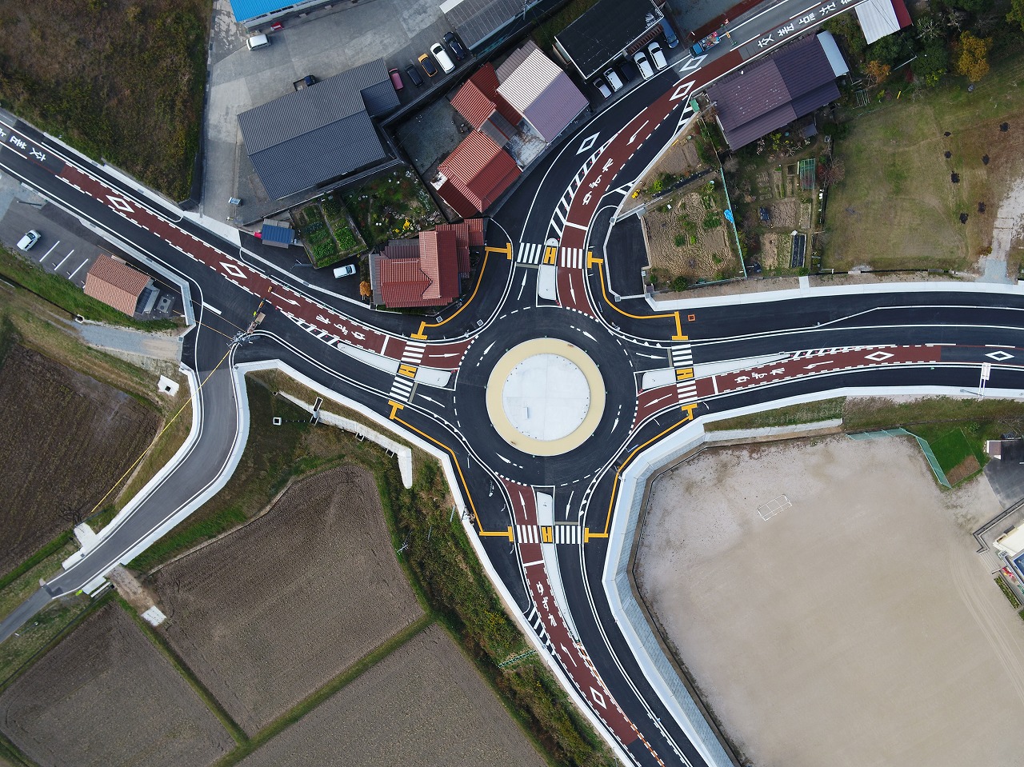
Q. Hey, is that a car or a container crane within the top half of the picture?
car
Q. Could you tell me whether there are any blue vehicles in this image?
Yes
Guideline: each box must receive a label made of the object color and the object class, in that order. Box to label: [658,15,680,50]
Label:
blue car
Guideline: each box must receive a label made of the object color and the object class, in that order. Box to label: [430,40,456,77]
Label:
white car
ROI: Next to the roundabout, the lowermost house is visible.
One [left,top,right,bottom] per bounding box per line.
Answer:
[370,219,483,307]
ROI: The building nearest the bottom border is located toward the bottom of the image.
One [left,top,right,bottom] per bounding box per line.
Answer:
[982,510,1024,557]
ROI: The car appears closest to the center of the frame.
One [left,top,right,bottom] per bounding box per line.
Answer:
[333,264,358,278]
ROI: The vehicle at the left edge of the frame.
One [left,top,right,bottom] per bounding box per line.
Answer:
[17,228,43,253]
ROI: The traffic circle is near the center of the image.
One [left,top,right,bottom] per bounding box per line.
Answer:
[456,307,635,484]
